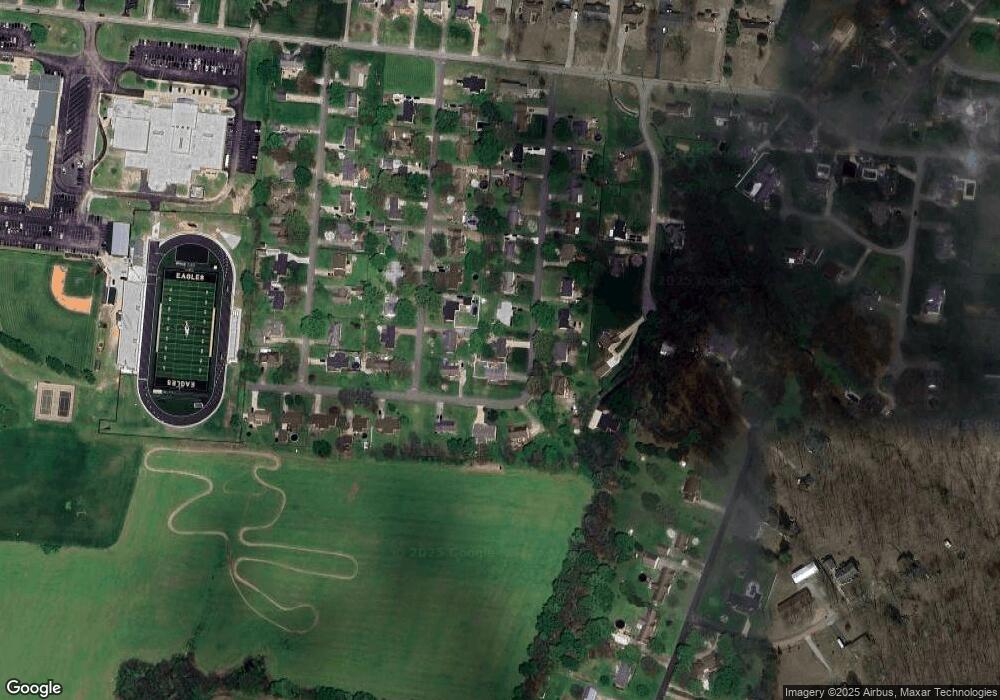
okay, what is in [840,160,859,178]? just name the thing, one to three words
house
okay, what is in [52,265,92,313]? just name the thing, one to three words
baseball field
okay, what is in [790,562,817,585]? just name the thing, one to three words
barn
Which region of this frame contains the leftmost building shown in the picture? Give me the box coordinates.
[0,74,62,206]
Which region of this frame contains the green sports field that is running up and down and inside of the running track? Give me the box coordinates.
[154,268,219,394]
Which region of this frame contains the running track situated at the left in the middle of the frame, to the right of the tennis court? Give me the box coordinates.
[137,232,235,429]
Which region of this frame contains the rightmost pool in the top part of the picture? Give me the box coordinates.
[963,180,976,198]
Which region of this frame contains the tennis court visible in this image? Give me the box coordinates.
[34,382,75,423]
